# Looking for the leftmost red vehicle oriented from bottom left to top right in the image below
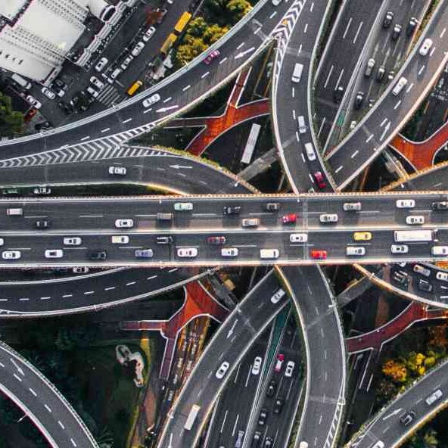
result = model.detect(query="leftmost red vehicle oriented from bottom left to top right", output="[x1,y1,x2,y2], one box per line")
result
[24,106,39,122]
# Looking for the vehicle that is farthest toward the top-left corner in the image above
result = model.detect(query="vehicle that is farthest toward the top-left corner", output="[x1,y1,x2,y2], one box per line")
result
[12,73,30,87]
